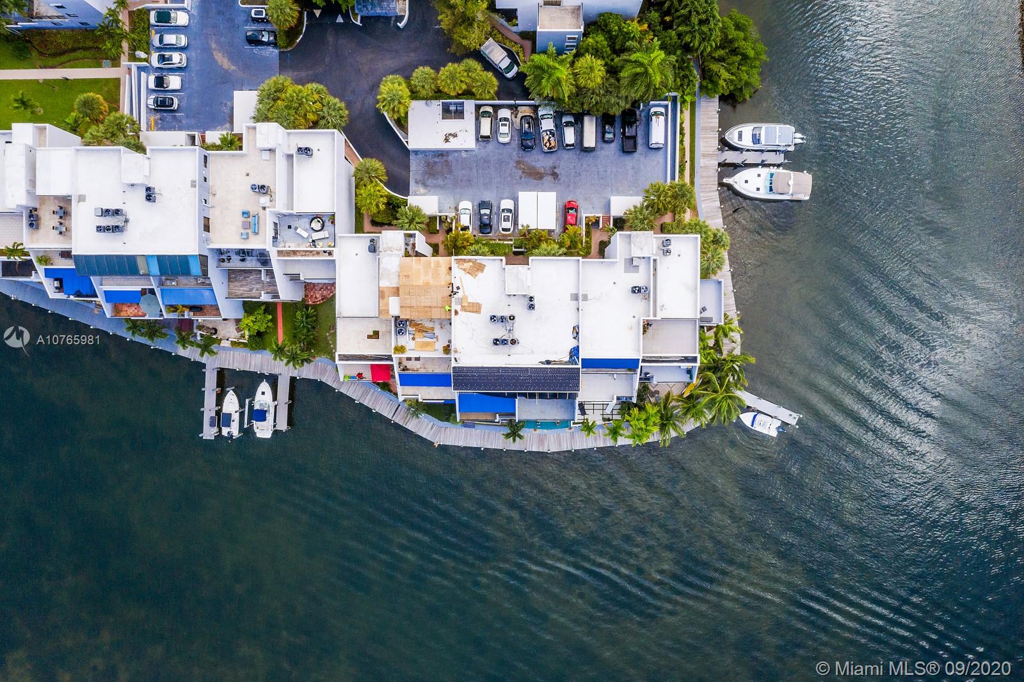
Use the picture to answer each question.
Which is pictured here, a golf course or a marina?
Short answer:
marina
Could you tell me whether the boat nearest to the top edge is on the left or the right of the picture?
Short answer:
right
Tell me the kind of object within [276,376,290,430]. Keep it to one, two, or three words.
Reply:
pier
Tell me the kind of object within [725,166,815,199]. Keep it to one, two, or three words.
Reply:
boat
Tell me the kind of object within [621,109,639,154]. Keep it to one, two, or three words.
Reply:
vehicle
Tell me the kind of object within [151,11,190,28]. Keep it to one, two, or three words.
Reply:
car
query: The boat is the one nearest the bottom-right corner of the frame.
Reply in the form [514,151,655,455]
[740,415,787,440]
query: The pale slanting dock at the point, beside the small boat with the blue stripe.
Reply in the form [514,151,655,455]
[731,390,800,425]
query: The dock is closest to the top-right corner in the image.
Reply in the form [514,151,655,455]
[717,151,784,164]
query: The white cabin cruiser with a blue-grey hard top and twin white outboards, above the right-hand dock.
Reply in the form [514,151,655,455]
[723,122,804,150]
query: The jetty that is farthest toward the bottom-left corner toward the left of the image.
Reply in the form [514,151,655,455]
[203,362,217,439]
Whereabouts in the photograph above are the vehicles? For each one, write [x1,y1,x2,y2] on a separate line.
[648,107,667,149]
[148,94,180,111]
[539,106,558,154]
[148,74,183,91]
[580,114,598,153]
[621,109,639,154]
[478,105,495,142]
[478,200,494,235]
[151,11,190,28]
[245,6,268,23]
[498,199,515,235]
[496,109,512,145]
[601,113,617,144]
[152,32,189,50]
[560,114,577,150]
[480,33,519,78]
[564,200,579,233]
[458,200,474,235]
[151,50,188,69]
[519,115,536,152]
[245,28,279,47]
